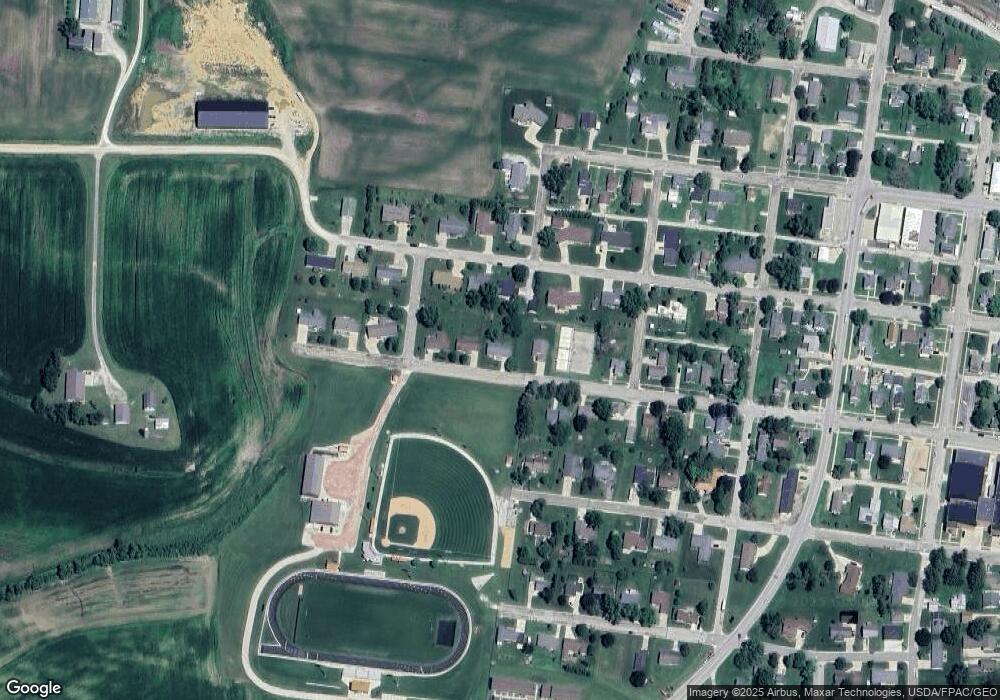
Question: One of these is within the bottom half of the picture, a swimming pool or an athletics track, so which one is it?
athletics track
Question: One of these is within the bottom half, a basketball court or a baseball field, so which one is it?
baseball field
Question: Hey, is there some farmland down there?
Yes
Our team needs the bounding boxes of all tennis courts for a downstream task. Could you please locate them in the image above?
[556,327,575,371]
[570,332,595,374]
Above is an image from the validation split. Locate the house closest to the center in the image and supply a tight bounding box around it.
[485,343,513,359]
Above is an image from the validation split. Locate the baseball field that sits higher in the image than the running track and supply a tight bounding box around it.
[373,432,497,563]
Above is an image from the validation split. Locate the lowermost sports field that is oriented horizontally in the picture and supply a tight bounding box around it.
[275,577,462,667]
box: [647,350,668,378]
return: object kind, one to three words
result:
house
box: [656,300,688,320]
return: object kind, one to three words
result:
building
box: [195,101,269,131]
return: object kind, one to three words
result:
shed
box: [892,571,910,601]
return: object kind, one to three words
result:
house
